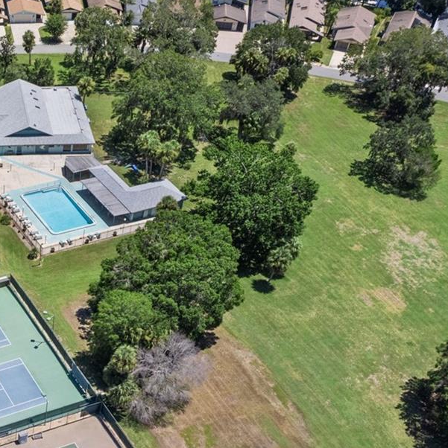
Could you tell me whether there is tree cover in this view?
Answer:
Yes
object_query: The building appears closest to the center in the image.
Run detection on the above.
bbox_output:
[80,165,186,226]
